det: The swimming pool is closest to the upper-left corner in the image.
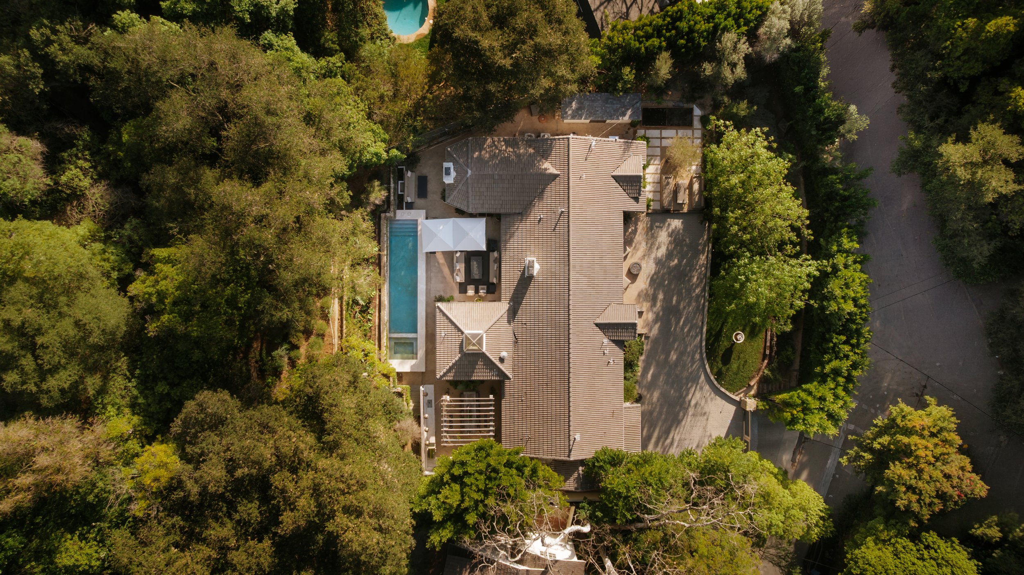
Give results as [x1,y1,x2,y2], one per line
[376,0,435,43]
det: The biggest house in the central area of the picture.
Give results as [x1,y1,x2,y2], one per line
[435,135,648,492]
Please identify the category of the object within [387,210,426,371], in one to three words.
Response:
swimming pool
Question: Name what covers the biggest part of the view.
trees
